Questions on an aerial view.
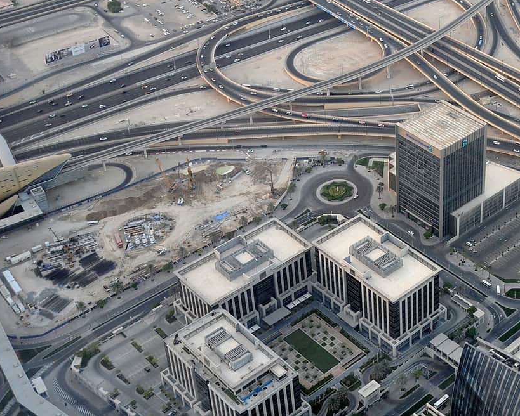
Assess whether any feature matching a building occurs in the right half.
Yes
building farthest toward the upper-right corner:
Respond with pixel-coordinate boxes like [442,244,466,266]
[384,102,520,242]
